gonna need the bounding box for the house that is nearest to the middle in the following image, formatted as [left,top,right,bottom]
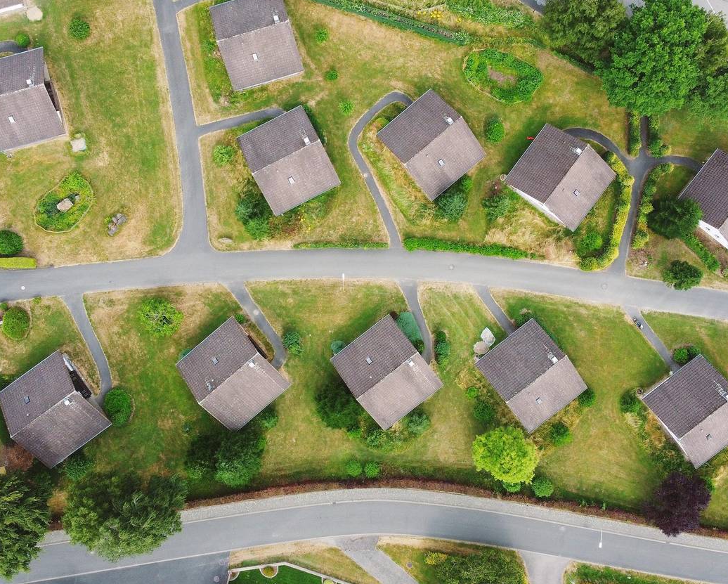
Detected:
[331,314,443,429]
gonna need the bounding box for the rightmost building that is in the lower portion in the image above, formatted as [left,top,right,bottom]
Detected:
[640,353,728,468]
